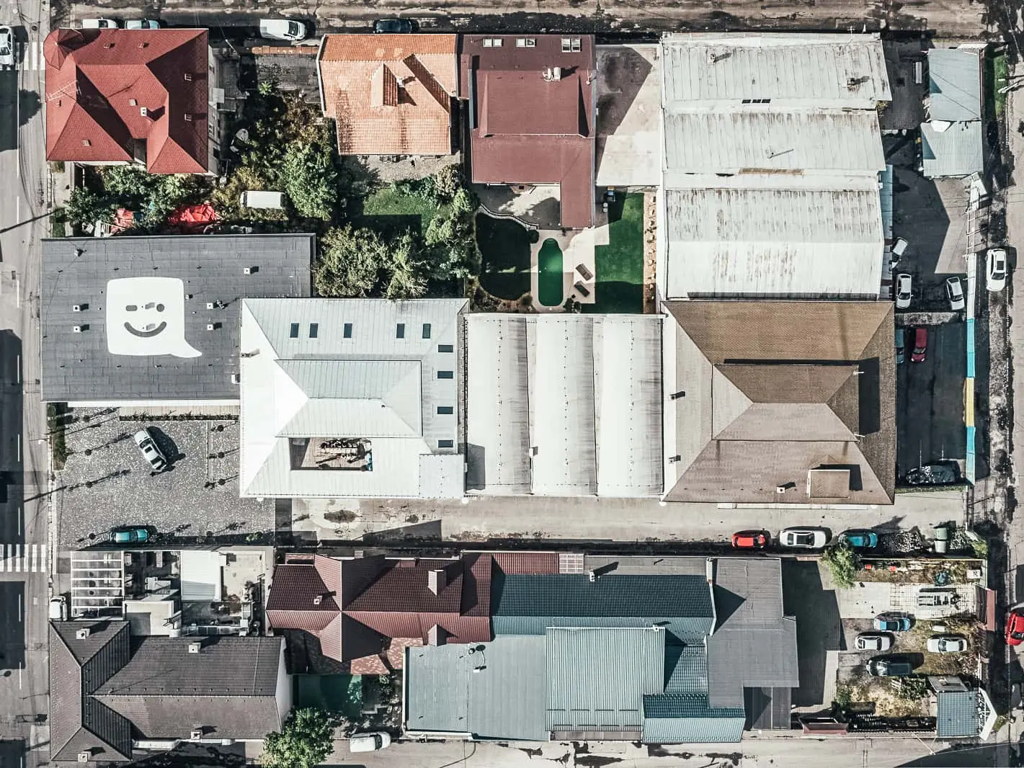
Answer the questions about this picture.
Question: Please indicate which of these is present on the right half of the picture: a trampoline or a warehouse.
warehouse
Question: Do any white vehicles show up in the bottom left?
Yes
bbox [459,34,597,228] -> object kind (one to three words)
house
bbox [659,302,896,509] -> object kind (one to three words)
building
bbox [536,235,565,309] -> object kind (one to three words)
swimming pool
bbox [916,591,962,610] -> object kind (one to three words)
trailer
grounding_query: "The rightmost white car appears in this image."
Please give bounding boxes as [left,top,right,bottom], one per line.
[987,246,1011,290]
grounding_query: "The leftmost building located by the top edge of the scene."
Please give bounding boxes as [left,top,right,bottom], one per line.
[40,26,221,180]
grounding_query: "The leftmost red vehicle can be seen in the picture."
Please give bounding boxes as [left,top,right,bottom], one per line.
[733,531,770,549]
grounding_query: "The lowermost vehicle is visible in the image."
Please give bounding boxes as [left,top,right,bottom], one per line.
[348,732,391,758]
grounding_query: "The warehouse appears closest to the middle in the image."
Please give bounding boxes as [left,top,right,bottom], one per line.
[465,313,663,499]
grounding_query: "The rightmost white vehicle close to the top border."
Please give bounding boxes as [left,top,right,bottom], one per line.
[256,15,303,41]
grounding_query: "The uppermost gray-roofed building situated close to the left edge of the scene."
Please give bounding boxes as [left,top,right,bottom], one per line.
[40,233,323,407]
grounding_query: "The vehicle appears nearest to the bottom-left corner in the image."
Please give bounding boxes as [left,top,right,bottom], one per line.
[44,597,65,624]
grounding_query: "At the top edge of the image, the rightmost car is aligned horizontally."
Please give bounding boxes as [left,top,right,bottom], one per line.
[371,14,413,33]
